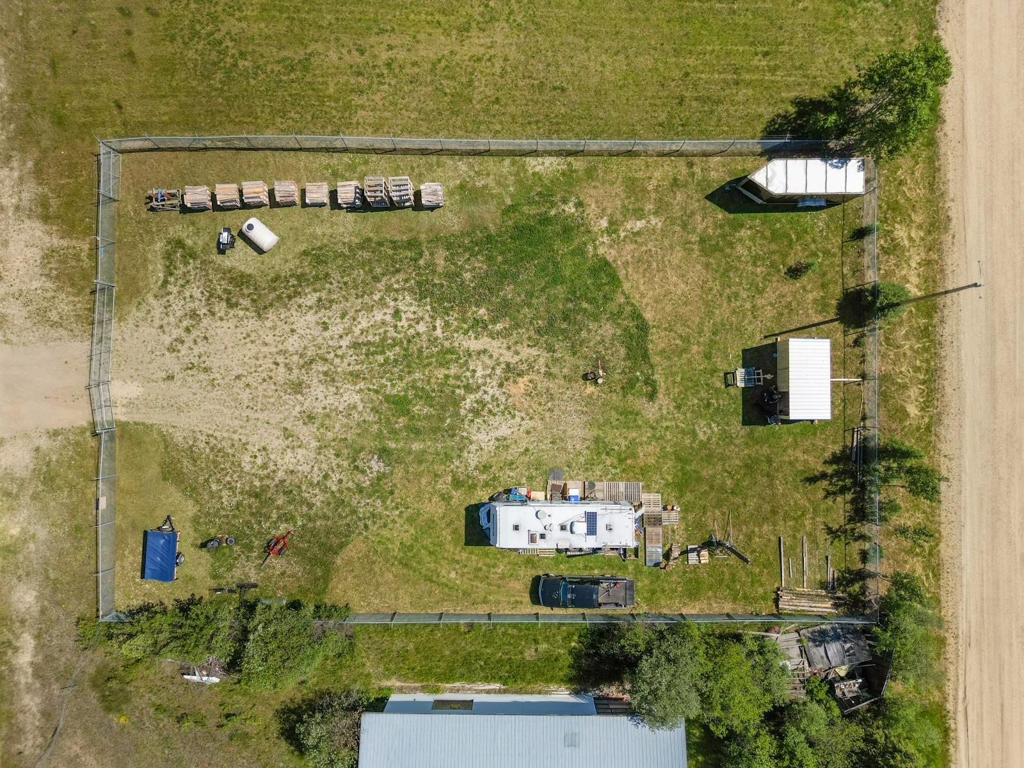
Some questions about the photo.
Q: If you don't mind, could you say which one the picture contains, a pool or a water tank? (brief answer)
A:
water tank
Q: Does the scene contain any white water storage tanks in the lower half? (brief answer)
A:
No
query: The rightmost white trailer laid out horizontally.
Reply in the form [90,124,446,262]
[722,158,865,208]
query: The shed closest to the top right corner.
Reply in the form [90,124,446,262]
[773,336,832,421]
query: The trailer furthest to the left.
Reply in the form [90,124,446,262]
[144,514,184,582]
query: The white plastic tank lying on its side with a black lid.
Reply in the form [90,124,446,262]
[242,218,279,252]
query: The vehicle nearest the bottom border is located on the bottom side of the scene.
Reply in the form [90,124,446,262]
[537,573,634,612]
